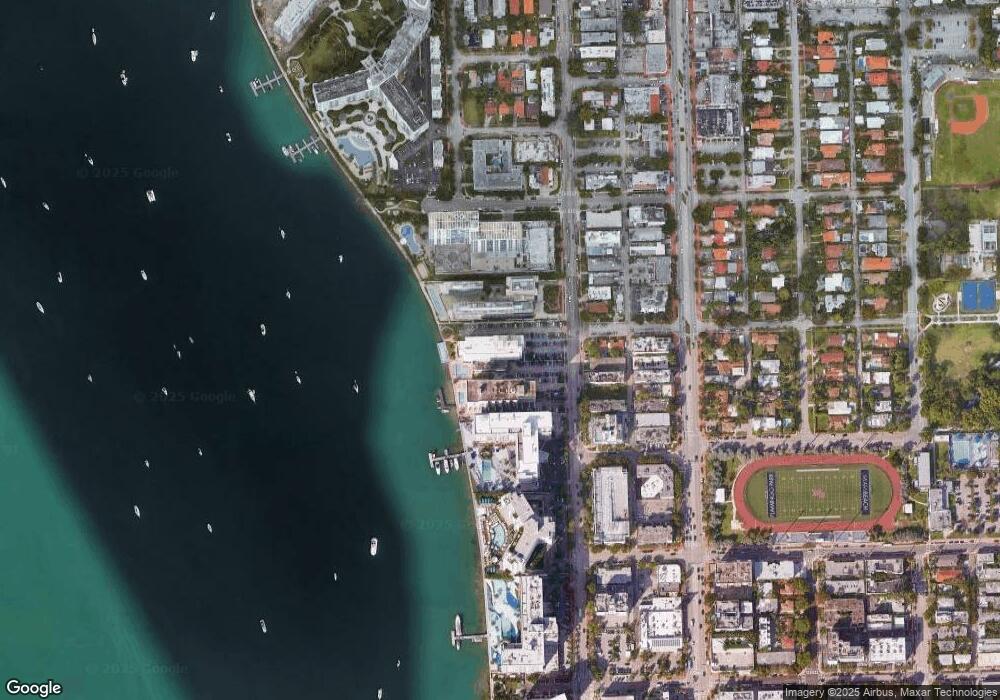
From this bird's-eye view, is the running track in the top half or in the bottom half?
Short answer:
bottom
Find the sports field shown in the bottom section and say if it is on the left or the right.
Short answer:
right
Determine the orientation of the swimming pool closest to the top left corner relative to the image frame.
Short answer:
on a diagonal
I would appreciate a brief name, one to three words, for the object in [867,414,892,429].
house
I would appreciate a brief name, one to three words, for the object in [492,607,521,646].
swimming pool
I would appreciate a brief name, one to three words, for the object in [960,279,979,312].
sports court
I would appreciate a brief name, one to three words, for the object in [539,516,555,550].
building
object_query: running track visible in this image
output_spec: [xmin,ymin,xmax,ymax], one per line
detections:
[734,453,904,532]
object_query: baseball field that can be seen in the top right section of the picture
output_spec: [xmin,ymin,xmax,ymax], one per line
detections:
[933,81,1000,187]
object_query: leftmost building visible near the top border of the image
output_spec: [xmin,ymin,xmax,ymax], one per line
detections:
[275,0,325,50]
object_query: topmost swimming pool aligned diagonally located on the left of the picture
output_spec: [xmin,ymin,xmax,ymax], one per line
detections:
[336,135,376,168]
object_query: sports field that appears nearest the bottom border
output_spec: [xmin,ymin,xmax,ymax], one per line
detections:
[745,464,893,520]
